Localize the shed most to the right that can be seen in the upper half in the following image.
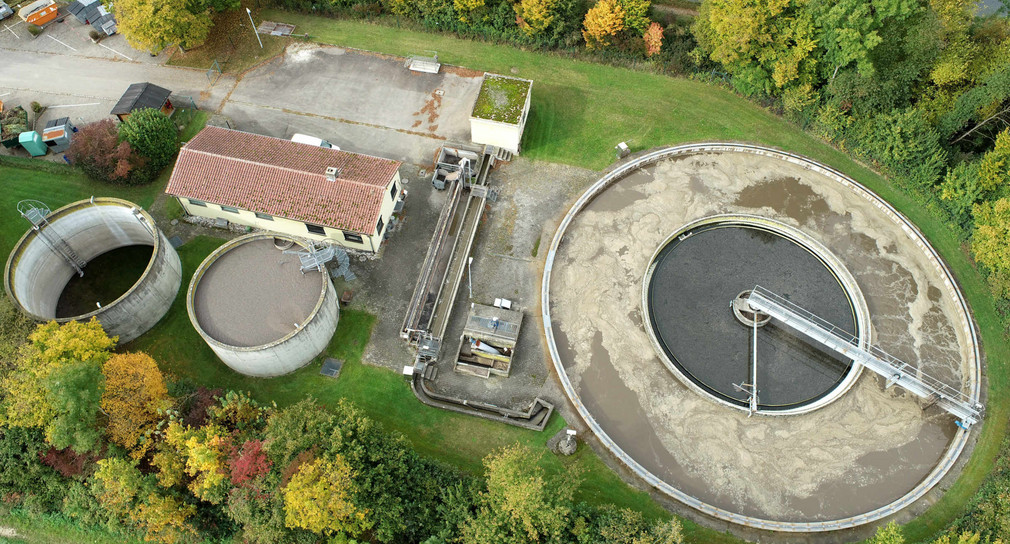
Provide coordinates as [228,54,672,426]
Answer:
[469,72,534,153]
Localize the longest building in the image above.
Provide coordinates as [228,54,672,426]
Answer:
[165,124,401,253]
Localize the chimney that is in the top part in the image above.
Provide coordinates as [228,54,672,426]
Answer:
[321,168,339,183]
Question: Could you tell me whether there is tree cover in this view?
Yes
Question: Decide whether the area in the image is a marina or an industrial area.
industrial area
